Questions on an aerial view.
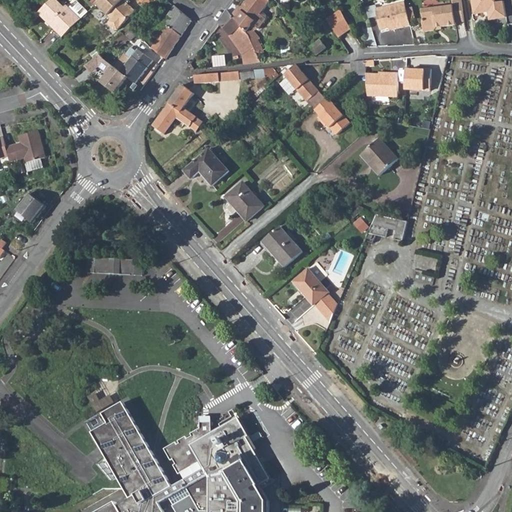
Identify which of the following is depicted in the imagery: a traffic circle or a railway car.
traffic circle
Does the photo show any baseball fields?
No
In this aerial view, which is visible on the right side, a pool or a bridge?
pool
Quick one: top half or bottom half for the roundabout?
top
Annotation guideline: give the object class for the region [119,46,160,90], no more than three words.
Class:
house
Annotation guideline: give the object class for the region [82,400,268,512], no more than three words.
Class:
building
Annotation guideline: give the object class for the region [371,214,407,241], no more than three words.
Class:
building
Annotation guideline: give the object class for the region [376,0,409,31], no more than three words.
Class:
house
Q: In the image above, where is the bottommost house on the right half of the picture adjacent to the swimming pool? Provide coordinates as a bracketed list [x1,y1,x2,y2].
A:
[316,294,338,321]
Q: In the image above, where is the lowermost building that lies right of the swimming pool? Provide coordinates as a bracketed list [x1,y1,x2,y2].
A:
[414,254,438,270]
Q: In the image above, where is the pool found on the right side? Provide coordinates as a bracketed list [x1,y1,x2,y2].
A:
[327,250,357,288]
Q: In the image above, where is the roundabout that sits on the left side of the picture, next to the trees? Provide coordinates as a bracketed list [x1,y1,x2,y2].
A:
[76,120,144,188]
